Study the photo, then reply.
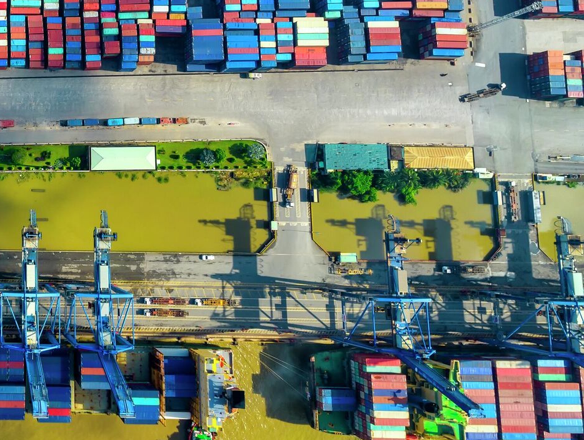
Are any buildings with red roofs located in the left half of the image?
No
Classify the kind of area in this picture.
port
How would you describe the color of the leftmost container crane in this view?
blue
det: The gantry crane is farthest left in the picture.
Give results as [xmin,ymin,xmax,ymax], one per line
[0,207,66,429]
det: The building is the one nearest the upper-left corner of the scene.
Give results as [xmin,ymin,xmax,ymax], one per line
[88,144,161,171]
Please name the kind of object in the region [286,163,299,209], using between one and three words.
vehicle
